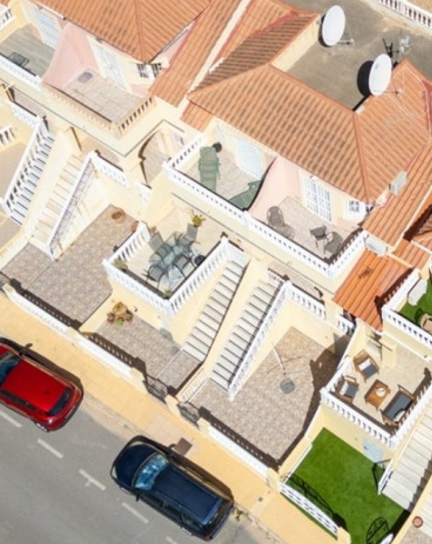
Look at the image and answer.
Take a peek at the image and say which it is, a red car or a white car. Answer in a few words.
red car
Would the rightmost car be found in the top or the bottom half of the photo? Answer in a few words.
bottom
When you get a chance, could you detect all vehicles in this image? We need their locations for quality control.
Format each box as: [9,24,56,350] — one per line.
[0,347,83,433]
[115,440,236,543]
